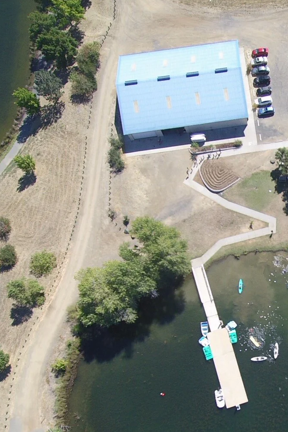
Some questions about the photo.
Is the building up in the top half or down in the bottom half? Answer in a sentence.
The building sits in the top half of the picture.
